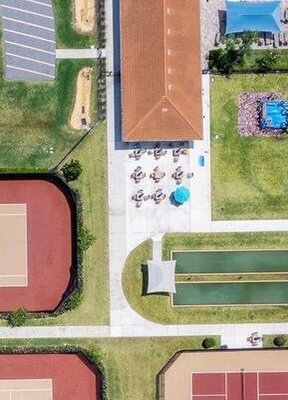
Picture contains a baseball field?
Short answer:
No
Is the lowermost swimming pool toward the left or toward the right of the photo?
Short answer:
right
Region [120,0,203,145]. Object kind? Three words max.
building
